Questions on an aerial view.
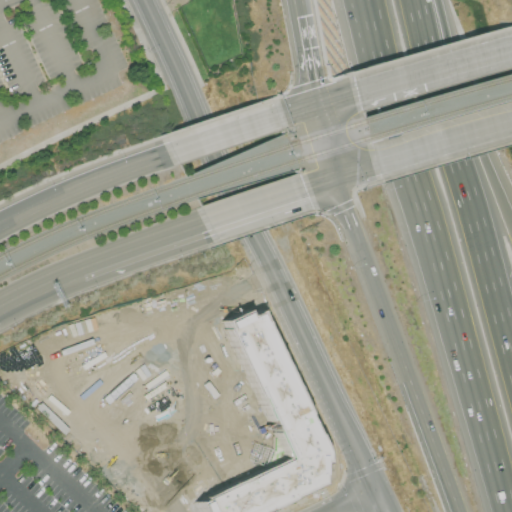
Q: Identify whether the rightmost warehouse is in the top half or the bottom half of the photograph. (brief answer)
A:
bottom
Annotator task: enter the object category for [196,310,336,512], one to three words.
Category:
warehouse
